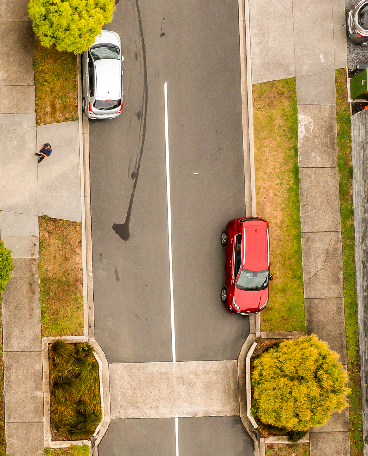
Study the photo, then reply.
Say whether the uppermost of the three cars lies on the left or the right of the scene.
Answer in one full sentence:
The uppermost of the three cars sits on the right side.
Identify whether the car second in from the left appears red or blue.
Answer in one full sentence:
The car second in from the left is red.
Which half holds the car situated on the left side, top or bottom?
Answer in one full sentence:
The top half of the photo is where the car situated on the left side is.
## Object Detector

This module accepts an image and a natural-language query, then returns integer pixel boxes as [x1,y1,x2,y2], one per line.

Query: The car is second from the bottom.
[79,31,128,123]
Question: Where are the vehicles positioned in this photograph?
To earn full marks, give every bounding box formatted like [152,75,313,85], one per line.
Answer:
[217,217,274,317]
[79,31,128,123]
[345,1,368,46]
